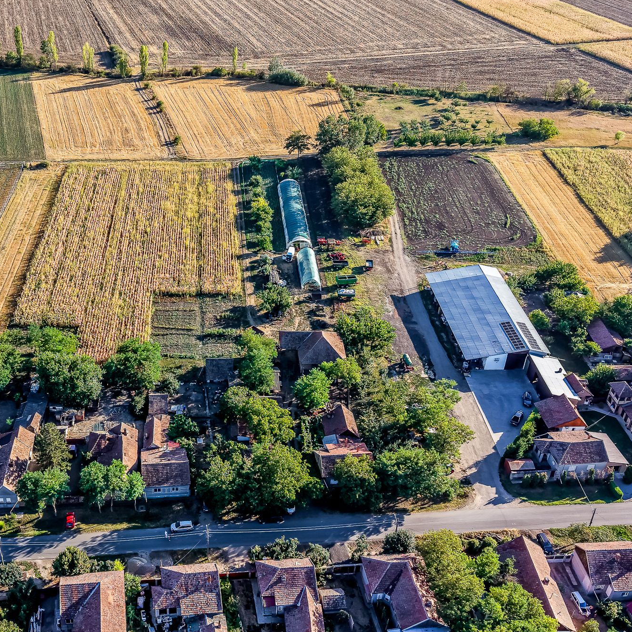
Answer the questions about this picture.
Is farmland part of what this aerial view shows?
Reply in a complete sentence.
Yes, there is farmland in the image.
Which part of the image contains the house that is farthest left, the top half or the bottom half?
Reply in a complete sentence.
You can find the house that is farthest left in the bottom half.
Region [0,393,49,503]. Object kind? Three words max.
house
